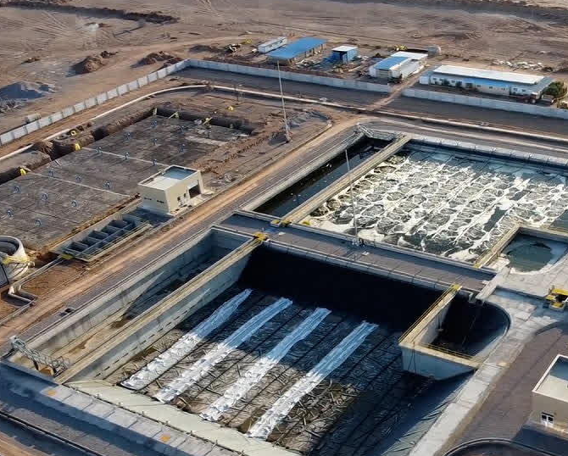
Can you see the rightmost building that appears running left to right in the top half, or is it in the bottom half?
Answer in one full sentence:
You can find the rightmost building that appears running left to right in the top half.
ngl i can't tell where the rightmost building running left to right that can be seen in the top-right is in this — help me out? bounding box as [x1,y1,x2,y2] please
[414,62,553,97]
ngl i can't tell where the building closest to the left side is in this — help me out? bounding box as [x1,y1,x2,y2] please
[135,161,217,214]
